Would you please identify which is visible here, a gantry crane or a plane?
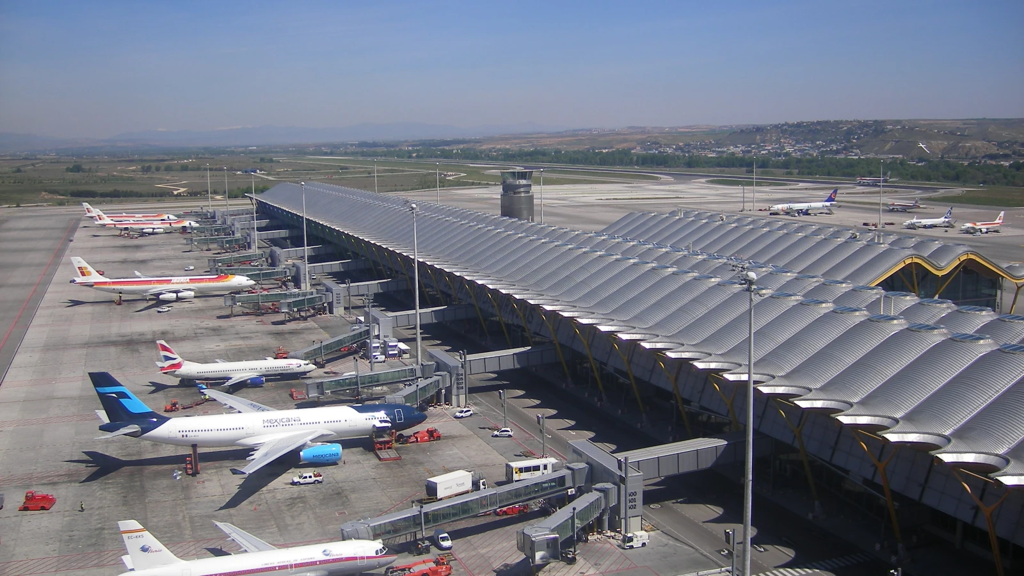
plane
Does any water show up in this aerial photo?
No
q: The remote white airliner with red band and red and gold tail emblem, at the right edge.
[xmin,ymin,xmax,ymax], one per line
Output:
[960,210,1004,232]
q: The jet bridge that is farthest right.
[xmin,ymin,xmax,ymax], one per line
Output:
[536,482,618,571]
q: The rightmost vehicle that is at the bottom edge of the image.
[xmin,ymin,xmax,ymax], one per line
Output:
[618,527,653,551]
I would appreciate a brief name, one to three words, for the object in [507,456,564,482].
bus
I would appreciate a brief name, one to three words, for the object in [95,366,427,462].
airplane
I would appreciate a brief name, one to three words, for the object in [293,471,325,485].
vehicle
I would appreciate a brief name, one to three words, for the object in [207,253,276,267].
jet bridge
